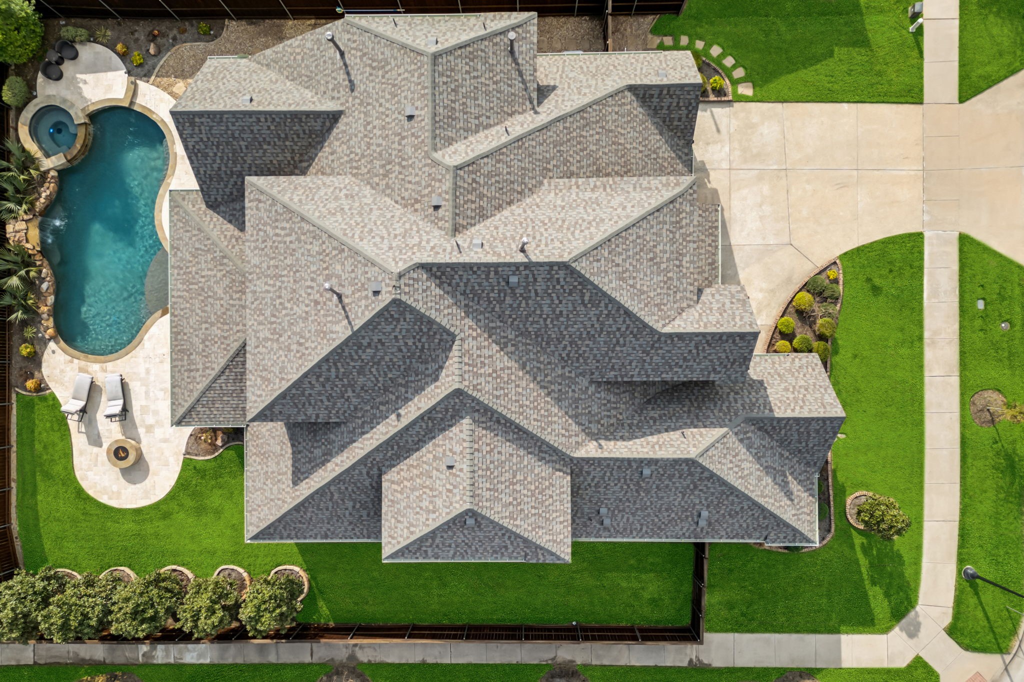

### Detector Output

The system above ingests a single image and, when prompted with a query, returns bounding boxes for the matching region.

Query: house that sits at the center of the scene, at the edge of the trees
[168,10,846,566]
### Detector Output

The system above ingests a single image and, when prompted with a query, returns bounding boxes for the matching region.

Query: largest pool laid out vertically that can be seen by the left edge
[41,75,176,363]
